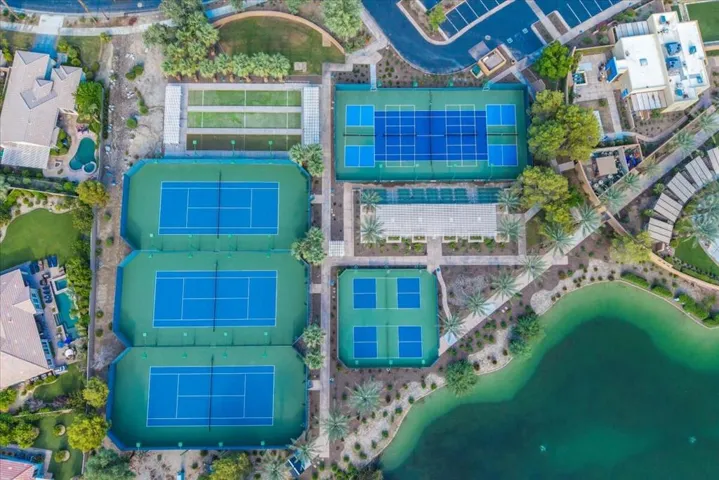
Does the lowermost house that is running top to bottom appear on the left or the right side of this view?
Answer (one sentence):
The lowermost house that is running top to bottom is on the left side of the image.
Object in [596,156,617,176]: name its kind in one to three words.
umbrella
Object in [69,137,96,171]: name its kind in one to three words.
swimming pool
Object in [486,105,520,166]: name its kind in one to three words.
sports court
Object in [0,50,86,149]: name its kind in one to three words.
house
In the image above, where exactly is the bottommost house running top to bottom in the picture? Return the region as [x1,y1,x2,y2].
[0,269,57,391]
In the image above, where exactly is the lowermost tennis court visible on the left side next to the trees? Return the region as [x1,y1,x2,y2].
[112,346,306,447]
